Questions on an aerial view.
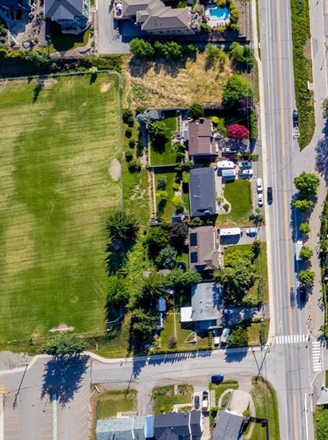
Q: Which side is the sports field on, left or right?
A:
left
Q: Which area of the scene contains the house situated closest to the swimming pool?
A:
top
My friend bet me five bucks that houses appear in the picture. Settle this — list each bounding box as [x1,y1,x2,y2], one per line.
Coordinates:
[45,0,92,23]
[188,226,221,271]
[121,0,196,32]
[189,168,218,216]
[94,417,146,440]
[0,0,34,11]
[181,282,224,328]
[187,119,214,155]
[152,411,202,440]
[214,411,245,440]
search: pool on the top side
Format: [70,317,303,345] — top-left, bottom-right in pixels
[205,4,232,27]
